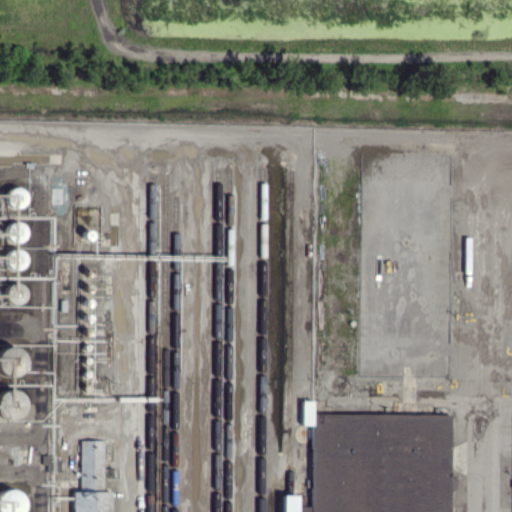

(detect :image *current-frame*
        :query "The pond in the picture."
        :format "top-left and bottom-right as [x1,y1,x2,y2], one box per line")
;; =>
[146,0,512,42]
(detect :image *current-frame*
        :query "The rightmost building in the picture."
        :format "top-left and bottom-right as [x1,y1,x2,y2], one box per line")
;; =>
[312,414,452,512]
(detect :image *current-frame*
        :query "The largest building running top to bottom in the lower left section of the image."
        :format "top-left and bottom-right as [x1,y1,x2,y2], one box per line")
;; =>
[80,441,105,492]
